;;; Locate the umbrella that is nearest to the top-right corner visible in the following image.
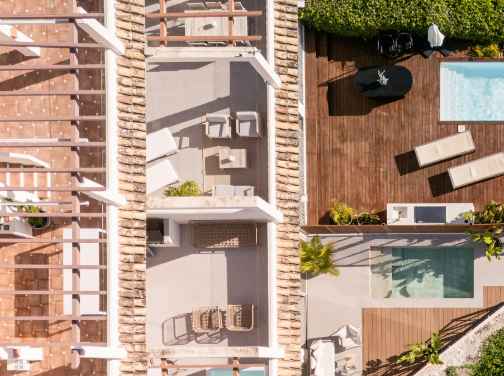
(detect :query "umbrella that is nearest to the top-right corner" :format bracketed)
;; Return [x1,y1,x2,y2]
[418,21,454,73]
